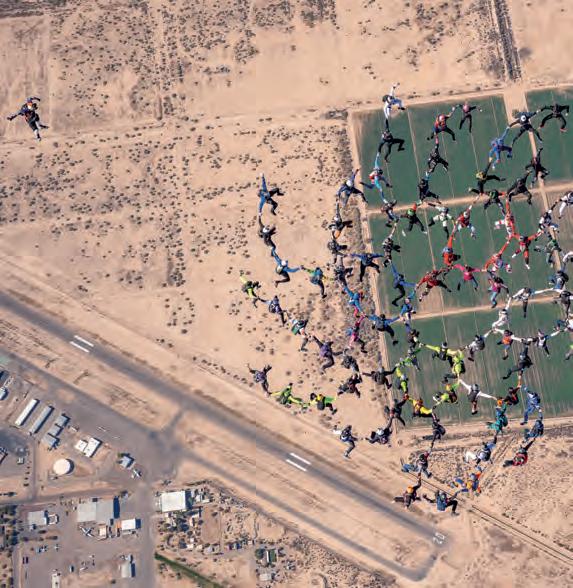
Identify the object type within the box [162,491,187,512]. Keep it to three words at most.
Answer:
hangar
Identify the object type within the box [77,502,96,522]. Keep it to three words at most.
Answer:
hangar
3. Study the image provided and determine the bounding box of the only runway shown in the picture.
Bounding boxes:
[0,291,454,553]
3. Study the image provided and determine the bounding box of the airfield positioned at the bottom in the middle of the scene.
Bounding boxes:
[0,291,454,579]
